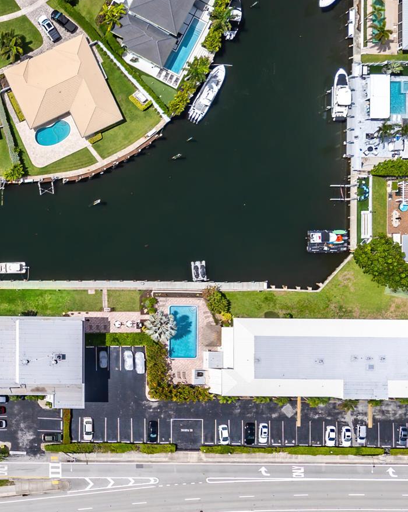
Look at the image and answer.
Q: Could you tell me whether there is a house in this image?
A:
Yes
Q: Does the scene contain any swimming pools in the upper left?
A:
Yes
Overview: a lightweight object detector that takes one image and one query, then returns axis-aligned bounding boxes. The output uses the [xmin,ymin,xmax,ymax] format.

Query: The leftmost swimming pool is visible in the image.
[34,119,71,147]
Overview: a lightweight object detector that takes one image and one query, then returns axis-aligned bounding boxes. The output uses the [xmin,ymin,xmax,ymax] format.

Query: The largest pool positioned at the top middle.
[163,16,209,76]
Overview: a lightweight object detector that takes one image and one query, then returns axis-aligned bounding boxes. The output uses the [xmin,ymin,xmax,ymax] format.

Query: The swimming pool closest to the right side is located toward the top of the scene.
[391,79,408,115]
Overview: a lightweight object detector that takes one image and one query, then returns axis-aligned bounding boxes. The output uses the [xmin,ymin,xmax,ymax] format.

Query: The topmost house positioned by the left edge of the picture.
[3,34,124,138]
